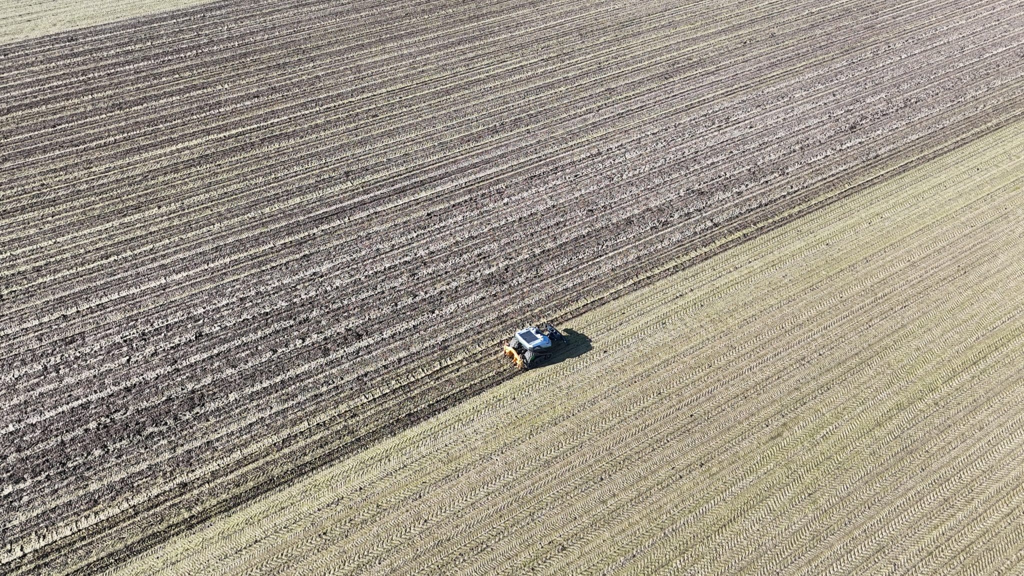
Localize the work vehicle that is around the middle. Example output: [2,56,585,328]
[510,321,568,369]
